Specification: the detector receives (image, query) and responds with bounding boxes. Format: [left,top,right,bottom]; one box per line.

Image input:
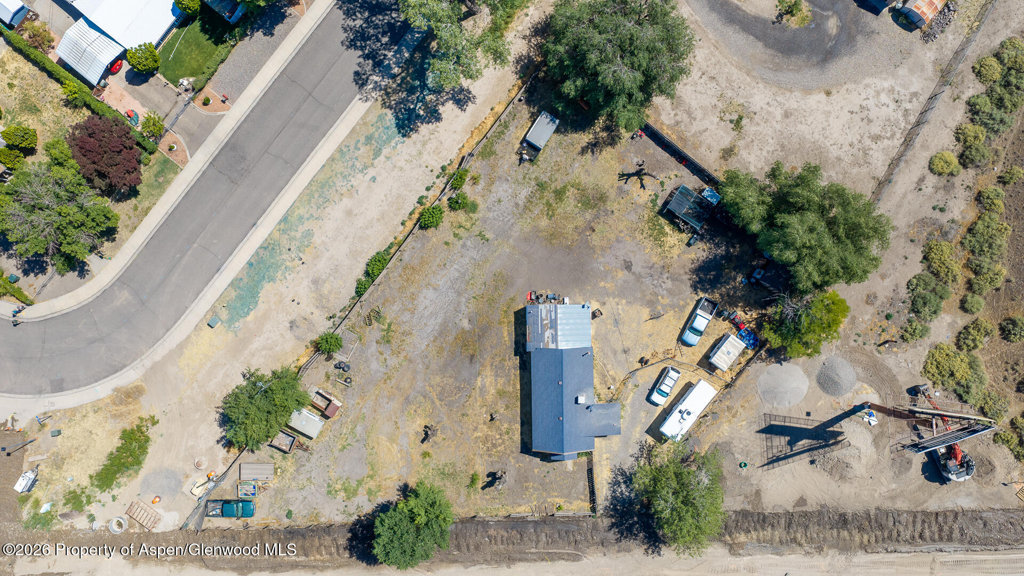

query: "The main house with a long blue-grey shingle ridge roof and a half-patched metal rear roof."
[526,303,620,460]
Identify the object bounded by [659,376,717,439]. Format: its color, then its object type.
white vehicle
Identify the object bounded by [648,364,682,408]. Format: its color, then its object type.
white car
